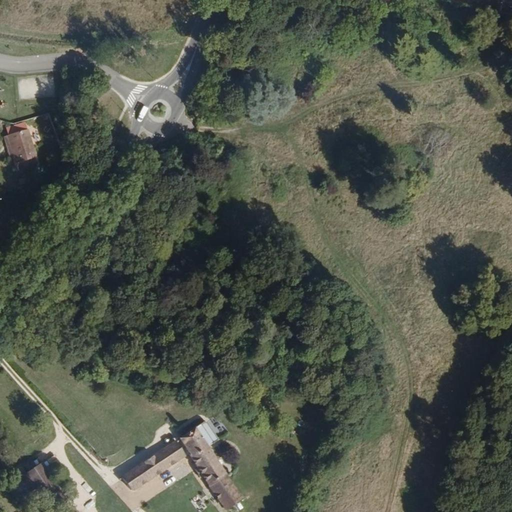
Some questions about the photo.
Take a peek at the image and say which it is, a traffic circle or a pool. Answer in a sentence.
The image shows a traffic circle.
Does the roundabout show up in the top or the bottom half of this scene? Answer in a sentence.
The roundabout is in the top half of the image.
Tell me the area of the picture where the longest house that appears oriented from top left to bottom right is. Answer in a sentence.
Look in the bottom portion of the view to spot the longest house that appears oriented from top left to bottom right.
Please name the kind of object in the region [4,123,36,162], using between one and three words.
house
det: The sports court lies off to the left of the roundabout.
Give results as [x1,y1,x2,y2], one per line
[18,76,55,100]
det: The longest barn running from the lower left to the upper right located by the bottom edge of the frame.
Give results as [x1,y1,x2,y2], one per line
[122,440,189,492]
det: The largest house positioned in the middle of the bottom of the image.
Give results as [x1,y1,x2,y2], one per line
[180,421,245,510]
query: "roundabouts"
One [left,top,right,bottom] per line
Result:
[134,86,184,136]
